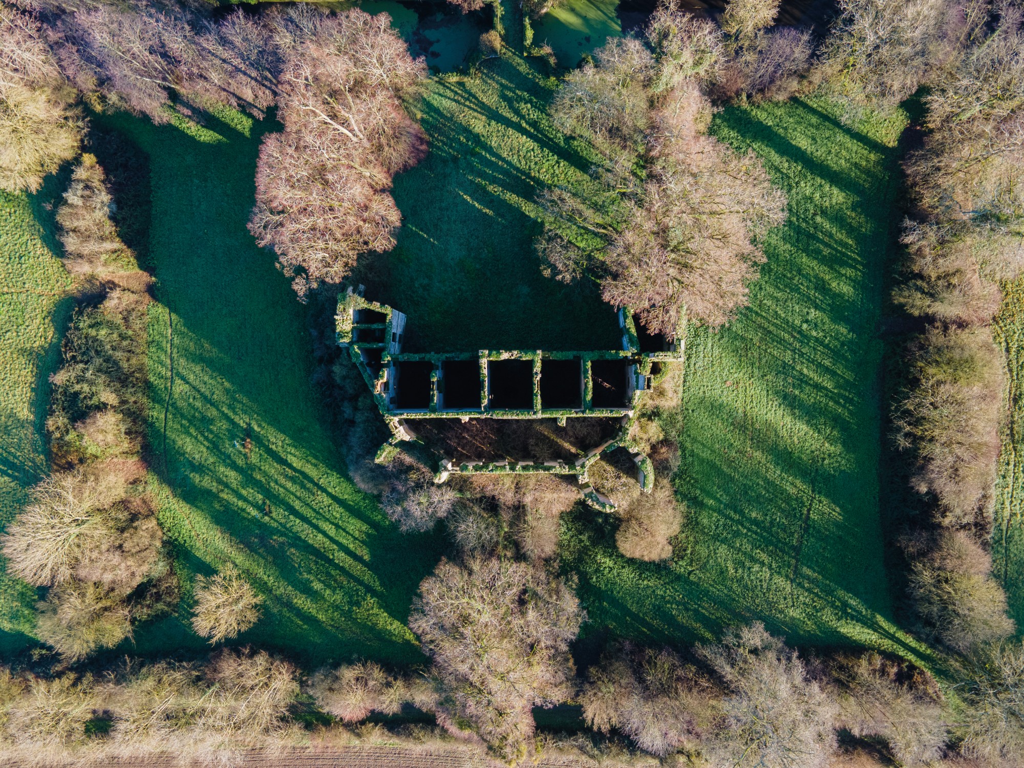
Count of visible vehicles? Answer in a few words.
none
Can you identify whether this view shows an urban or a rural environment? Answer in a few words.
rural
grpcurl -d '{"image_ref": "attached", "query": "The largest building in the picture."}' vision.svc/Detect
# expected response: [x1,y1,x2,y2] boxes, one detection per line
[332,284,687,515]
